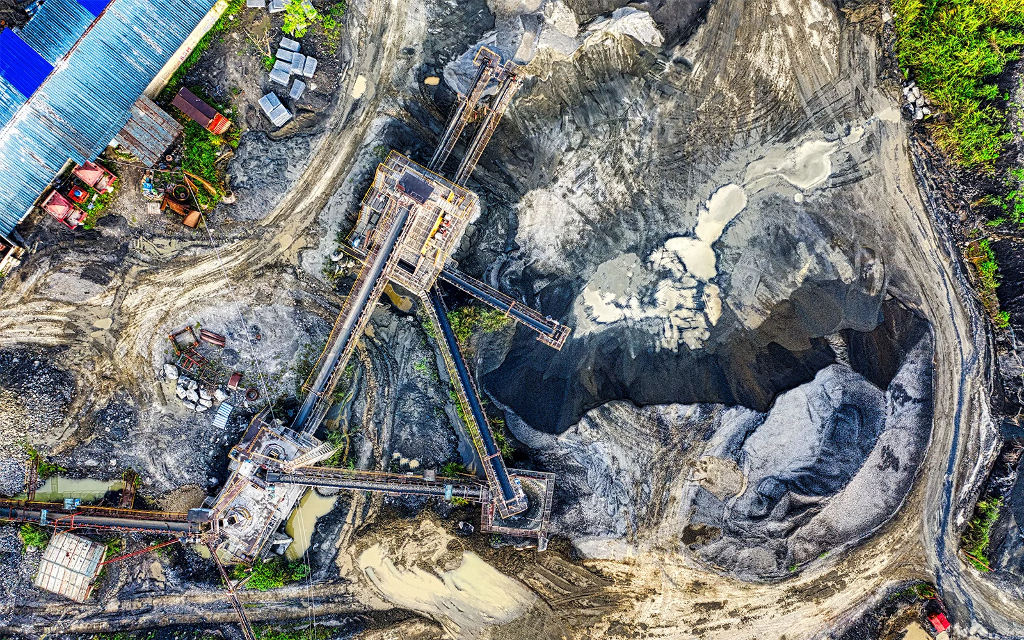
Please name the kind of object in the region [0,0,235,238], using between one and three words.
warehouse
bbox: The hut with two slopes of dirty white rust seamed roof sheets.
[35,530,115,605]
